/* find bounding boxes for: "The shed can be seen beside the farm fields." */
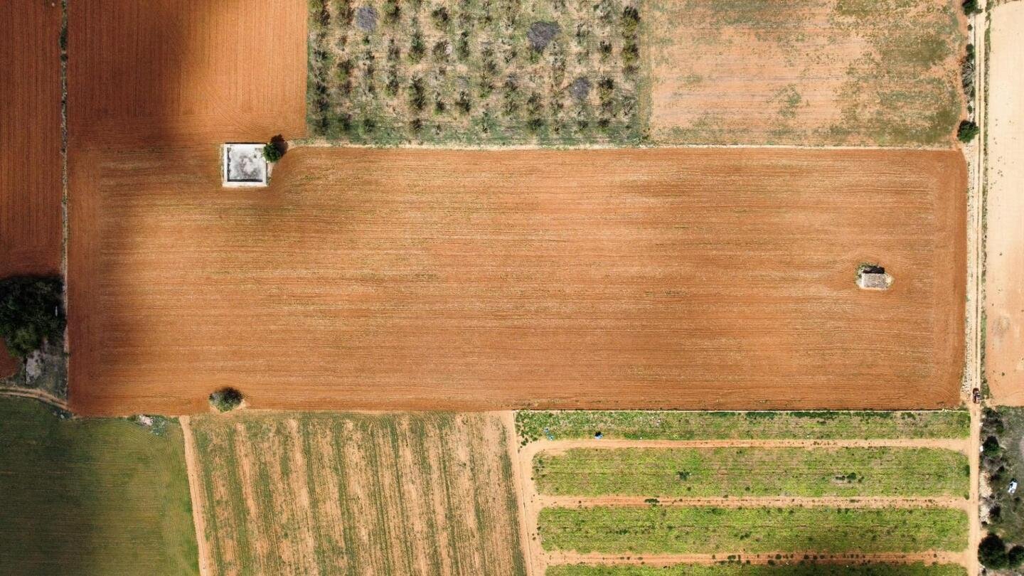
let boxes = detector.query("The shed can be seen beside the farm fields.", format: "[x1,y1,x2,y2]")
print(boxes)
[860,272,888,289]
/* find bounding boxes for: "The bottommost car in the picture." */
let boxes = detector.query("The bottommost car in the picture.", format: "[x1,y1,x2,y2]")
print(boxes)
[1006,480,1019,495]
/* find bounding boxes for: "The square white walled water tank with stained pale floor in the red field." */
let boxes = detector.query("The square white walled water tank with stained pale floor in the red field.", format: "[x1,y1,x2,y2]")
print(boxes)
[221,145,267,189]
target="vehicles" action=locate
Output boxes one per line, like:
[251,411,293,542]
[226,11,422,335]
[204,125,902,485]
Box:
[1006,480,1019,495]
[972,388,982,404]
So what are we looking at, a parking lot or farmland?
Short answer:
farmland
